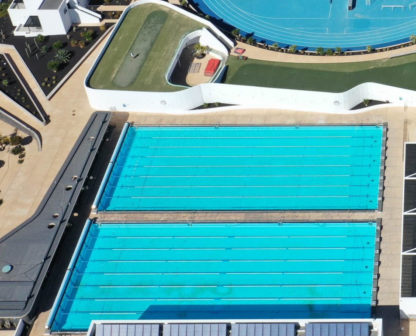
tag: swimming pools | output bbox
[40,216,382,334]
[88,119,389,214]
